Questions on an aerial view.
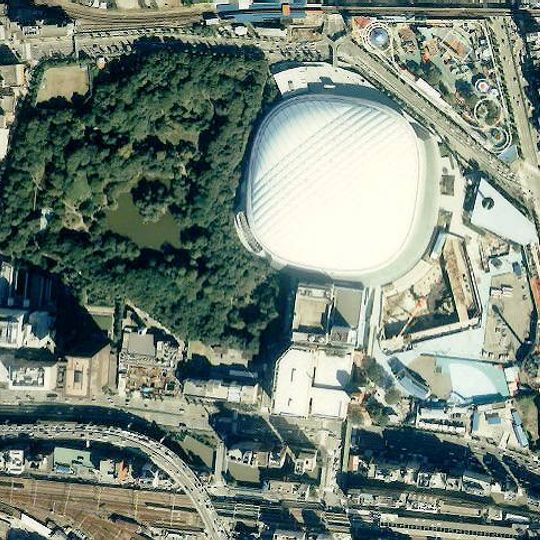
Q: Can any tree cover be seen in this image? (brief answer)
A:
Yes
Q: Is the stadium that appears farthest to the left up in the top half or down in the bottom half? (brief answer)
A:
top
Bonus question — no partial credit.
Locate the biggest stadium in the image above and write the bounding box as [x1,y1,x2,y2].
[246,90,441,286]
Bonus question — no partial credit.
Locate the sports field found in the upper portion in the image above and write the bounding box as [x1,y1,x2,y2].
[35,65,92,107]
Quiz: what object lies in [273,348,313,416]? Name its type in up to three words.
building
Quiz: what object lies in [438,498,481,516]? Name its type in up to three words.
building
